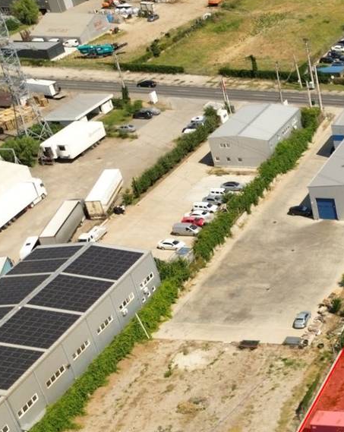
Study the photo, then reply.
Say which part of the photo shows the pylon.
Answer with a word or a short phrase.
top left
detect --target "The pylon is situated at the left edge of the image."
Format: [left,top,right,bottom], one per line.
[0,8,55,133]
